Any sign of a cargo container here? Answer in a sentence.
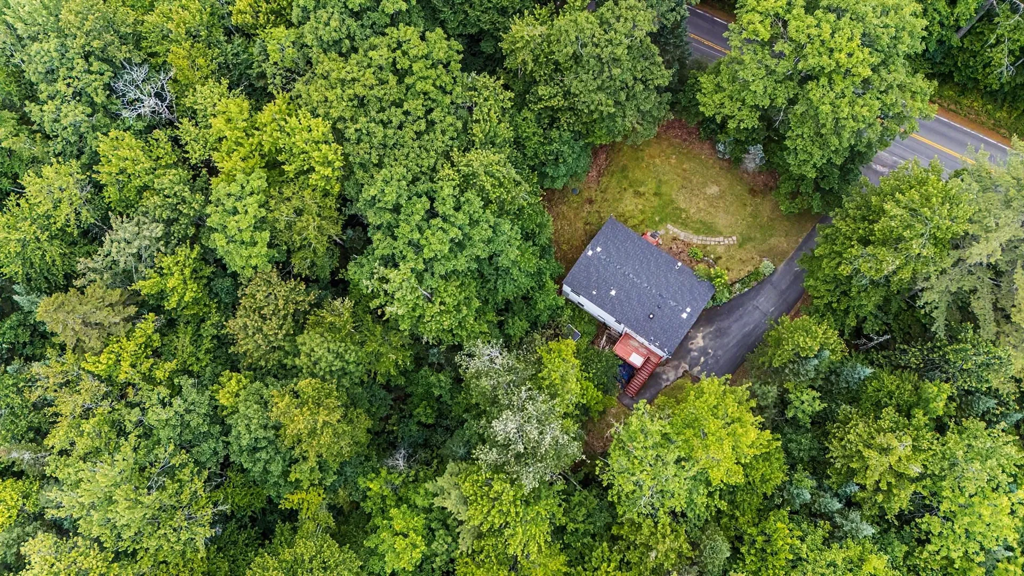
No, I can see no cargo container in this picture.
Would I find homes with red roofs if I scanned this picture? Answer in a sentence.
No, I can't see a single home with a red roof in this photo.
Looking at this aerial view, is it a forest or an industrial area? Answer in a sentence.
It's a forest.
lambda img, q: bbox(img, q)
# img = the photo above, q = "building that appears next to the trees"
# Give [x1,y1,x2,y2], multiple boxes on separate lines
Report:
[562,217,715,362]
